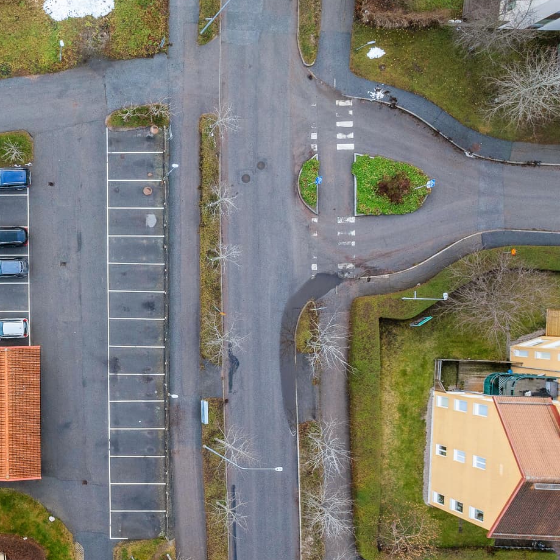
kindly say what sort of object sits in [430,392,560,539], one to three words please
house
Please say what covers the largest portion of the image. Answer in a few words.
paved ground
